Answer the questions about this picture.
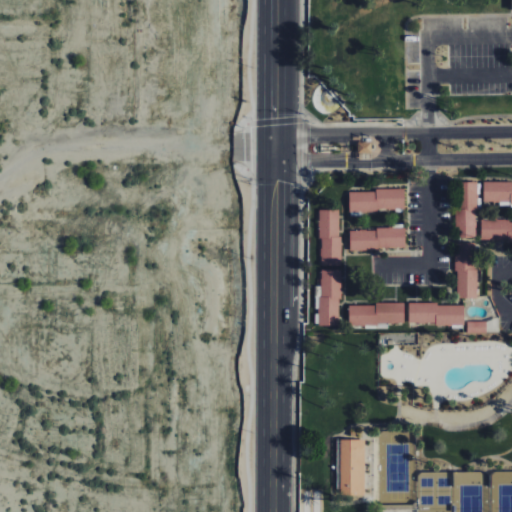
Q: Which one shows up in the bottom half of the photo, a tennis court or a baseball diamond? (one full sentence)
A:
It is a tennis court that can be seen in the bottom half of the photo.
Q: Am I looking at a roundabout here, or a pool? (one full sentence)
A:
There is a pool in the scene.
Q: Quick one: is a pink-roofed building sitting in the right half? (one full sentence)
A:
Yes, there is a pink-roofed building in the right half.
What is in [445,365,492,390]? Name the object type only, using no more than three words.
swimming pool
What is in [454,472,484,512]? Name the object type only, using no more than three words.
tennis court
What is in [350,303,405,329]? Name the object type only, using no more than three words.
building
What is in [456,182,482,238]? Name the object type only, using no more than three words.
building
